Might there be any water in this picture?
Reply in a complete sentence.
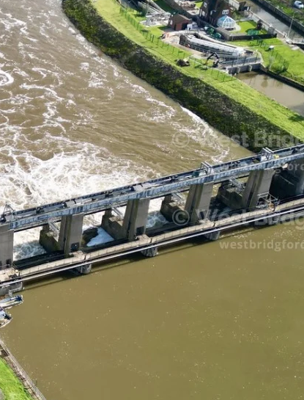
Yes, there is water in the image.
